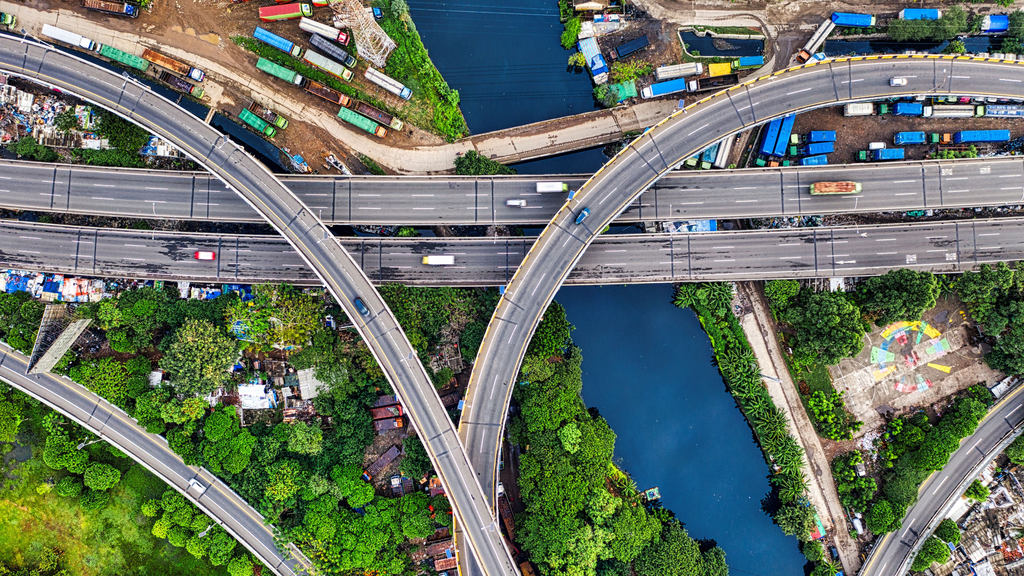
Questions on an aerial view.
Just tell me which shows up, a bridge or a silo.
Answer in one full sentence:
Of the two, only a bridge appears.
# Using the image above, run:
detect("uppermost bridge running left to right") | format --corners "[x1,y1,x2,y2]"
[472,101,658,161]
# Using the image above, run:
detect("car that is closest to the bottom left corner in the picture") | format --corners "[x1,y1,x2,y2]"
[188,477,207,494]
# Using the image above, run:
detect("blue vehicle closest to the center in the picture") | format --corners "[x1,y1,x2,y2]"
[575,206,591,226]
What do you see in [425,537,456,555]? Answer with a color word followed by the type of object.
red vehicle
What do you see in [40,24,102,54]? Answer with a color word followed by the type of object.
white truck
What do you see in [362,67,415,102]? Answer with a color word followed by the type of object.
white truck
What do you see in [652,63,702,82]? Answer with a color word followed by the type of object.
white vehicle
